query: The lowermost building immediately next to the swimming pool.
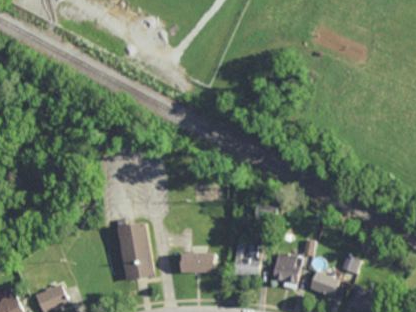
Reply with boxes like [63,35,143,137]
[310,272,341,297]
